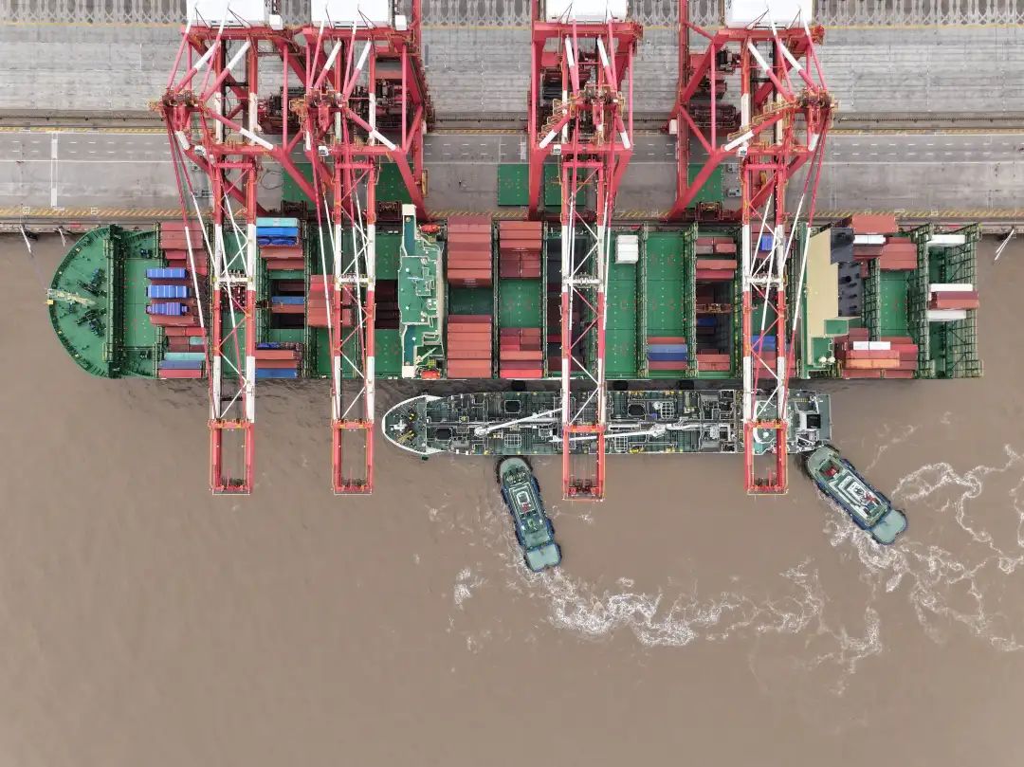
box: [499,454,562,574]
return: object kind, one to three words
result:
boat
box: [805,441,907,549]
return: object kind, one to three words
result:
boat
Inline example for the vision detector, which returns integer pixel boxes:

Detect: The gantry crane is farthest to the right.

[649,0,846,500]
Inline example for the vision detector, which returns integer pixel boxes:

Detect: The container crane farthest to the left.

[139,0,351,500]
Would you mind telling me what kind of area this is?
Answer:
port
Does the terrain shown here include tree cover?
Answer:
No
